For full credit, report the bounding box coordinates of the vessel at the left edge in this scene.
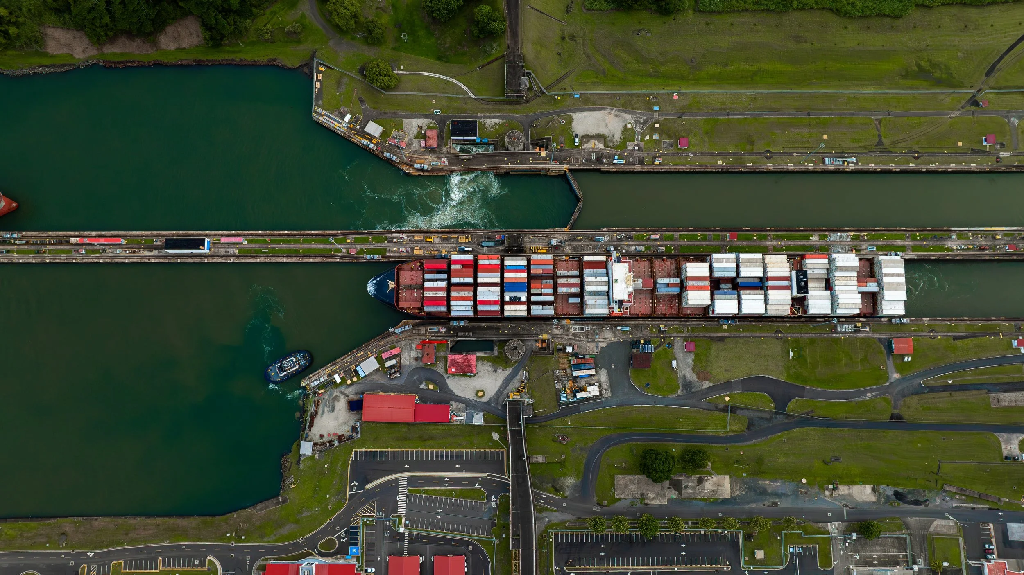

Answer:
[0,191,23,221]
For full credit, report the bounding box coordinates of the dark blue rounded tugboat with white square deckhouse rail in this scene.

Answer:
[263,349,316,383]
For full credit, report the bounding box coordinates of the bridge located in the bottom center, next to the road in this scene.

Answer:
[506,399,537,575]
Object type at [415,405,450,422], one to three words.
building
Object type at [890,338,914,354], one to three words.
building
